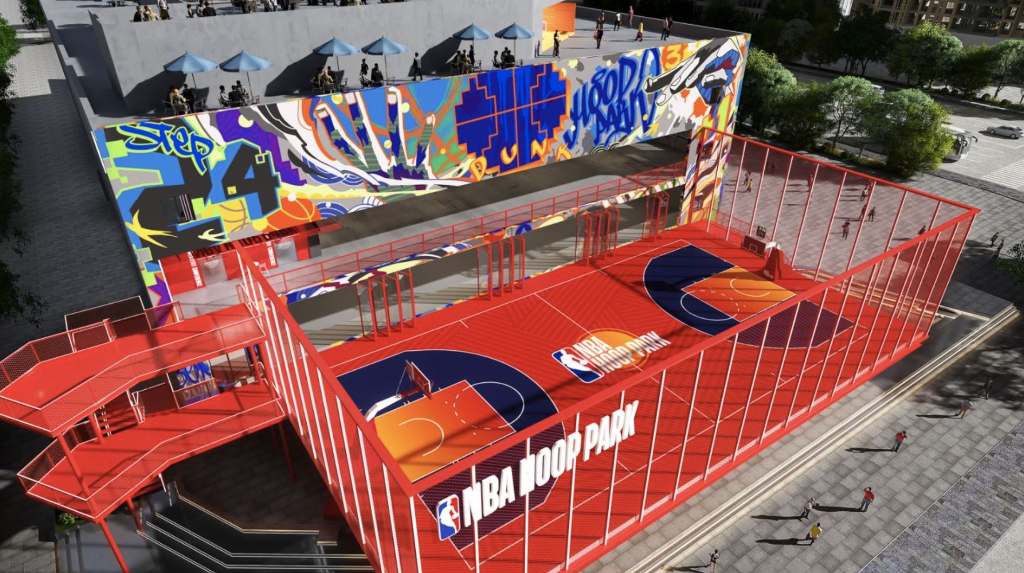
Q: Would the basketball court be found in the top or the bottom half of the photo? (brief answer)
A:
bottom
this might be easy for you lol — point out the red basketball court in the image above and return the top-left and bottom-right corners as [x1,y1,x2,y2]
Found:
[265,221,938,573]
